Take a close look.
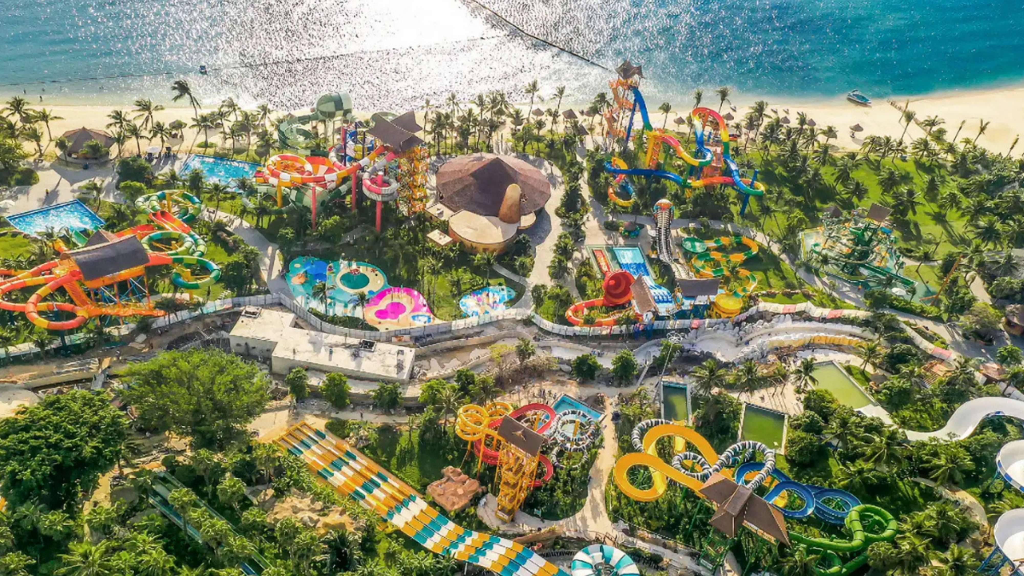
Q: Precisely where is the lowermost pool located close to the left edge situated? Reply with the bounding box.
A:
[3,196,109,239]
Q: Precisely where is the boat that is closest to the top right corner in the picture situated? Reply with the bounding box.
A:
[845,90,873,105]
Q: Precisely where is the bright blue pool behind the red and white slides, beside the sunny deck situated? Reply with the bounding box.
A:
[176,152,265,194]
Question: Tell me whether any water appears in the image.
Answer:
Yes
